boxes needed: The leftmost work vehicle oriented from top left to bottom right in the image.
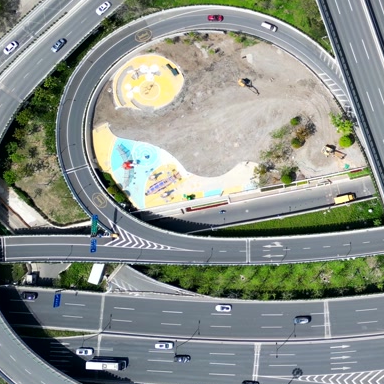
[237,77,257,92]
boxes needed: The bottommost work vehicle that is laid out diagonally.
[323,143,345,159]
